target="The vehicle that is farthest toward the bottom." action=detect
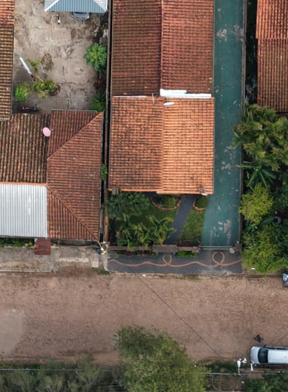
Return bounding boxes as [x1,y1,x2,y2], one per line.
[249,343,288,368]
